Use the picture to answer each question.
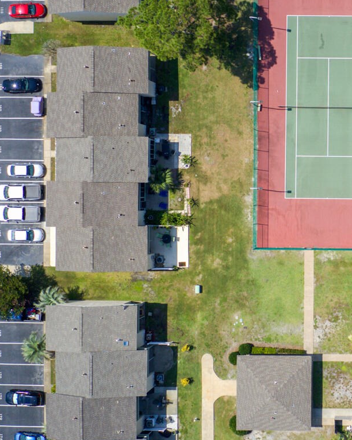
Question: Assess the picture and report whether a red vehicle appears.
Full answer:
Yes, a red vehicle appears in the view.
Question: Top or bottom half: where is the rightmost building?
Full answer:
You can find the rightmost building in the bottom half.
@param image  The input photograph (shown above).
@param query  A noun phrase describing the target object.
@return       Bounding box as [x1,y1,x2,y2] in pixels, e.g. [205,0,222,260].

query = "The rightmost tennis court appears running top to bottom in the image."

[278,15,352,199]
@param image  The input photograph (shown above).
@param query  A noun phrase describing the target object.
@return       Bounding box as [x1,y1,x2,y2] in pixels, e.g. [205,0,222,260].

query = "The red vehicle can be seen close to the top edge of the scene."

[8,2,48,19]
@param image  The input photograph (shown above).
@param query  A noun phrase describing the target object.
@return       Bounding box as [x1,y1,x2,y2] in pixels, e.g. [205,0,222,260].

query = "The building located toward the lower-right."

[236,351,313,431]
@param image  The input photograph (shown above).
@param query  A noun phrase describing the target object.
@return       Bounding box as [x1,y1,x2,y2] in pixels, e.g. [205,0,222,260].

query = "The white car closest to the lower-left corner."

[7,227,46,244]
